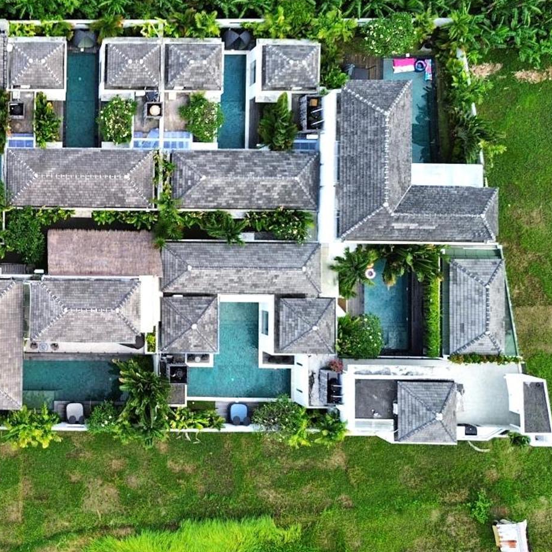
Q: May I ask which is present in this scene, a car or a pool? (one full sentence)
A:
Visible in the photo is a pool.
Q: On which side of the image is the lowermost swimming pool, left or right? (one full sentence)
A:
You can find the lowermost swimming pool on the left side of the picture.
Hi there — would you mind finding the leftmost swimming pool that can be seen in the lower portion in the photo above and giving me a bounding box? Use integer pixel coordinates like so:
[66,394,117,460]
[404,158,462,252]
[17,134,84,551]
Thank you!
[25,359,121,410]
